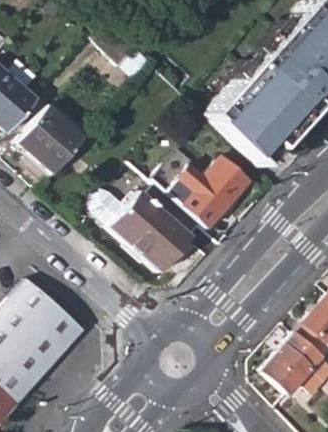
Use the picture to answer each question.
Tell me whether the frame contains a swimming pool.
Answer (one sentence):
No, I can see no swimming pool in this picture.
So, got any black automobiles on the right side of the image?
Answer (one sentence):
No, there is no black automobile on the right side of the image.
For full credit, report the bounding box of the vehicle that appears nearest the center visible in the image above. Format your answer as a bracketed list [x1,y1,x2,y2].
[87,252,106,270]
